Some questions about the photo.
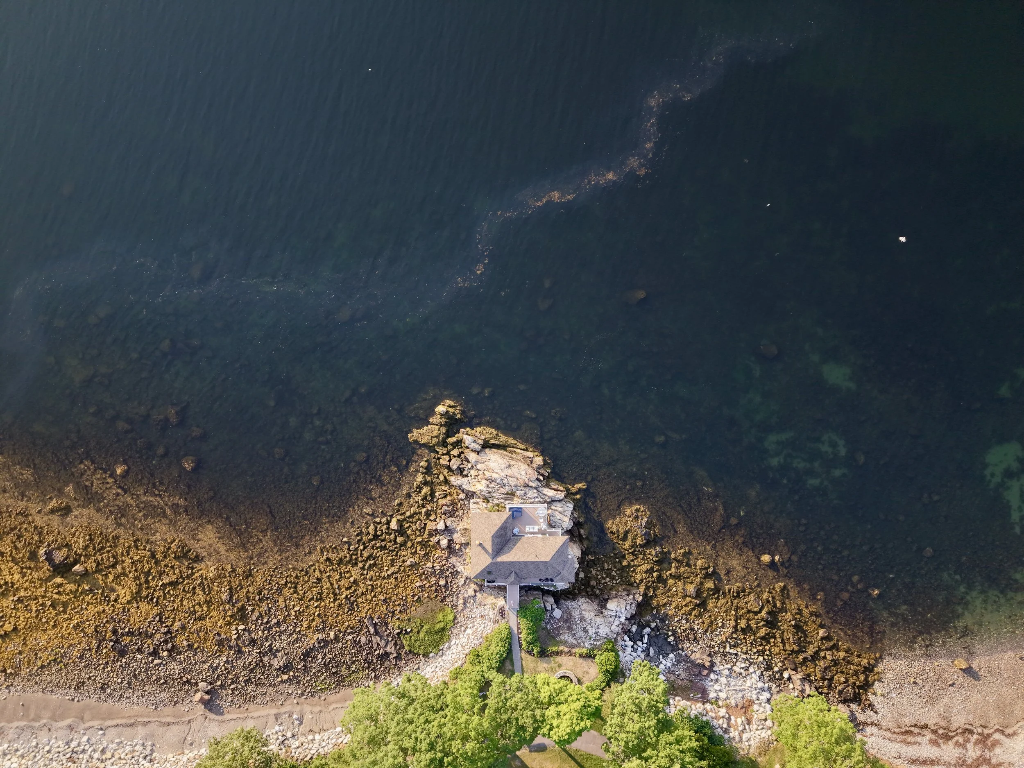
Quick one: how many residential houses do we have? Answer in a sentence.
I count 1 residential house.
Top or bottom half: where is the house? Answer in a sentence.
Seen from above, the house lies in the bottom half of the view.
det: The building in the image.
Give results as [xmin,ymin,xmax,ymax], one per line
[470,503,575,586]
